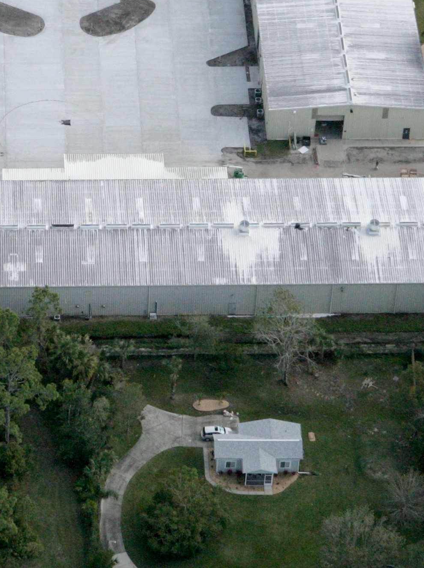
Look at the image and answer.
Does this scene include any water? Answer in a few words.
No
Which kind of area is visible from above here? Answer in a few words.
industrial area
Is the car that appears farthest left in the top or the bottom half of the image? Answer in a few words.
bottom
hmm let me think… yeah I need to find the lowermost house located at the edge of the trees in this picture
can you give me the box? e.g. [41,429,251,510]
[213,417,312,486]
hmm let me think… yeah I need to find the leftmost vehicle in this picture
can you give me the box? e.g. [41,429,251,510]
[199,423,236,443]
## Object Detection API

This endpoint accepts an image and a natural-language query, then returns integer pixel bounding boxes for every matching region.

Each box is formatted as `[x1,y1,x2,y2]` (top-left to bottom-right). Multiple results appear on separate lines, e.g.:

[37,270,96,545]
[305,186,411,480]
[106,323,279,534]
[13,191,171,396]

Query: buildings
[213,417,312,486]
[0,176,424,318]
[251,0,424,140]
